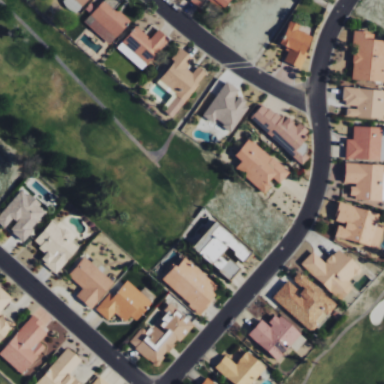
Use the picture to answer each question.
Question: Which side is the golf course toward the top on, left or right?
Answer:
left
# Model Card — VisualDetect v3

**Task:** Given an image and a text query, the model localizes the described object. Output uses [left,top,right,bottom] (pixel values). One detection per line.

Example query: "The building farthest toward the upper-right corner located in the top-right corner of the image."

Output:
[353,30,384,82]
